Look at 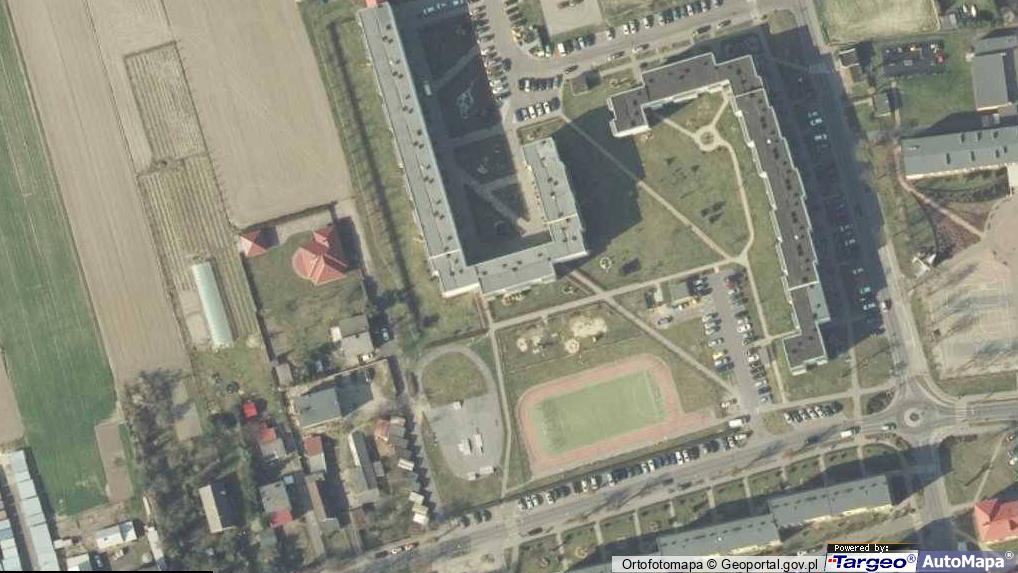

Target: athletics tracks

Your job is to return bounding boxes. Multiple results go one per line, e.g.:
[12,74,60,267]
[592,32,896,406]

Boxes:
[517,353,717,477]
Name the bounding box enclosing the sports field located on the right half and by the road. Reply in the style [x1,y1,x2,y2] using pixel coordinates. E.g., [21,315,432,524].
[515,351,720,480]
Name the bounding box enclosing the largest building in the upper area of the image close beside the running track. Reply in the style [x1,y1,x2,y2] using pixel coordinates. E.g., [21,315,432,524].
[607,54,831,372]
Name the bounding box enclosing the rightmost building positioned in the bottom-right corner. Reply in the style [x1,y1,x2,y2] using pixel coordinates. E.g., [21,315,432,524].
[974,497,1018,546]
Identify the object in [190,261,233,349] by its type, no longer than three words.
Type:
greenhouse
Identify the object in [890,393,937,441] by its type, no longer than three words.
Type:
roundabout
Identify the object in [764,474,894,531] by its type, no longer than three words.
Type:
building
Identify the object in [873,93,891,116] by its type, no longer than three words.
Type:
shed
